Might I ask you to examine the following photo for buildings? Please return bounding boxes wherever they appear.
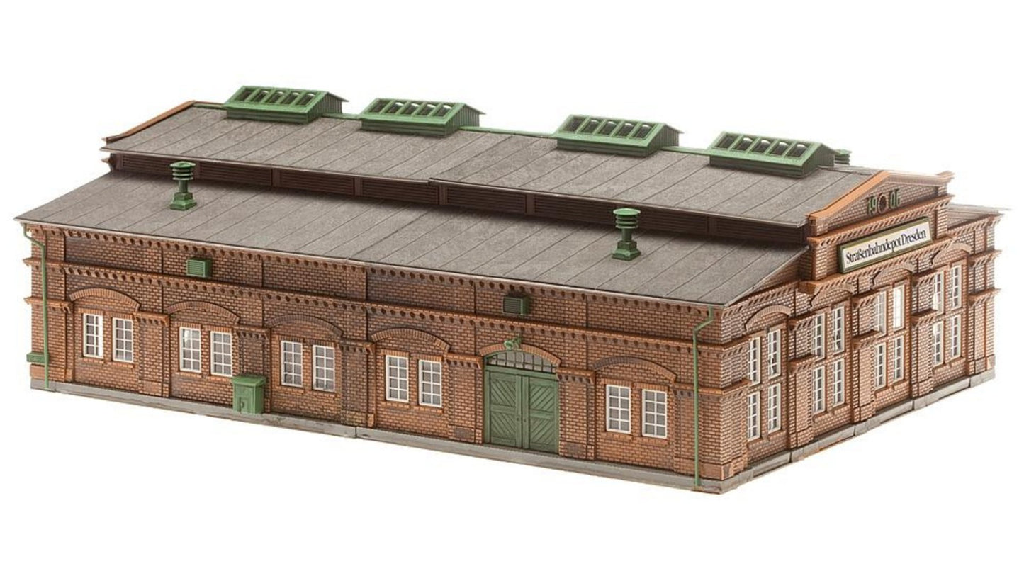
[14,85,1010,494]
